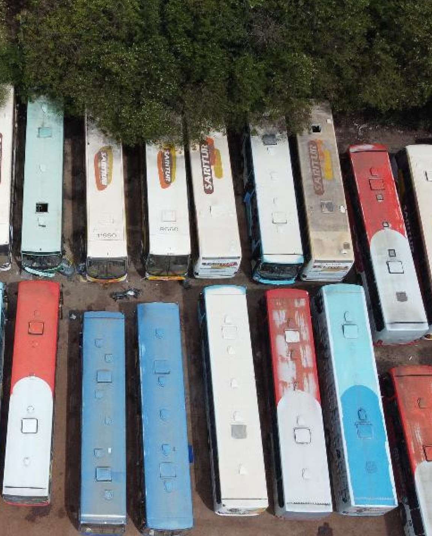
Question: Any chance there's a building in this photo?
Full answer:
No, I find no building anywhere in the image.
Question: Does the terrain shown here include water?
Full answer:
No, water can't be seen anywhere here.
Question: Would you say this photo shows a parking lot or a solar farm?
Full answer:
The area seen from above is a parking lot.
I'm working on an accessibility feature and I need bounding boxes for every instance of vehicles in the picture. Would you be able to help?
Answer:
[256,291,331,521]
[378,367,432,536]
[111,283,141,299]
[185,115,241,278]
[19,88,66,277]
[339,147,426,347]
[132,304,195,536]
[3,282,64,507]
[140,90,191,277]
[197,287,267,518]
[310,287,399,517]
[0,82,16,267]
[75,314,130,536]
[83,92,130,280]
[391,147,432,341]
[288,94,353,282]
[237,95,303,285]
